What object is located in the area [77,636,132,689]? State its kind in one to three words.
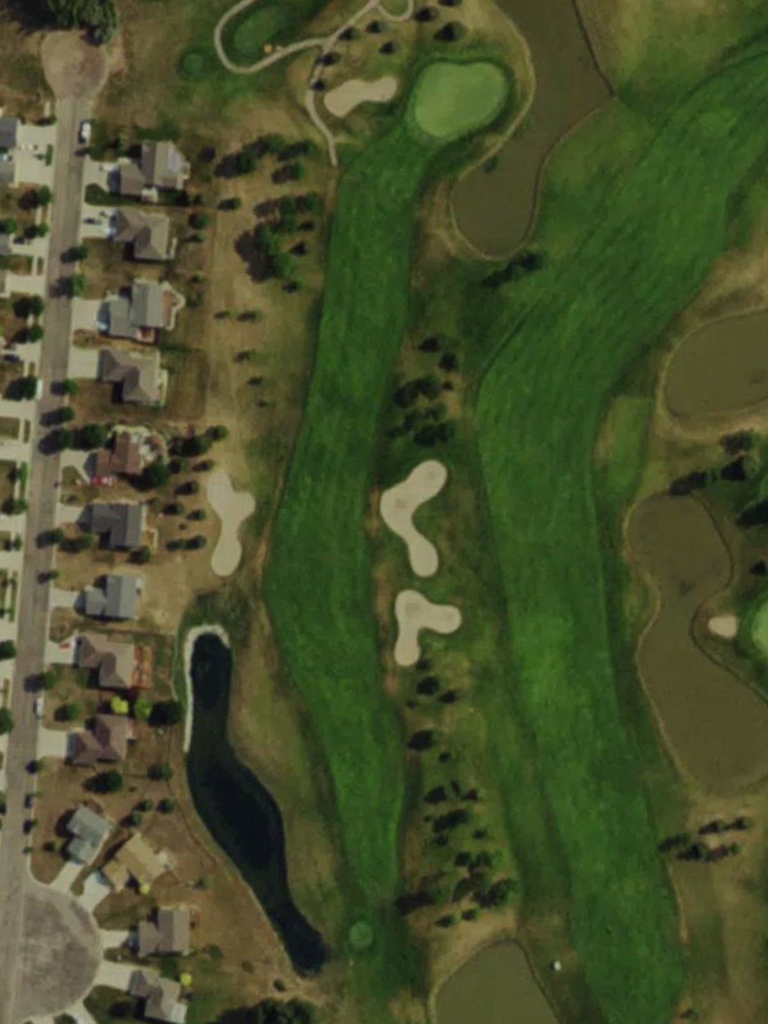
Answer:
house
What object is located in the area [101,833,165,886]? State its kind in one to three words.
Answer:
house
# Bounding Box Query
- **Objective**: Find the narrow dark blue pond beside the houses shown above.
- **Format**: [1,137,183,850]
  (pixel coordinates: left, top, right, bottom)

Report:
[187,633,326,972]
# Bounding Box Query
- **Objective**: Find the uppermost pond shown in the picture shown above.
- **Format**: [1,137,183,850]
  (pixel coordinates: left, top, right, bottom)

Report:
[452,0,611,258]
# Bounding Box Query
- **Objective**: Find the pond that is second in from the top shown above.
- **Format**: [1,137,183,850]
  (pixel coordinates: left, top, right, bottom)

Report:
[665,309,768,417]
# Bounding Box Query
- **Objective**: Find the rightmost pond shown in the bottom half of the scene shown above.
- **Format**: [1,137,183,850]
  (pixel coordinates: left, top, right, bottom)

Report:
[625,491,768,793]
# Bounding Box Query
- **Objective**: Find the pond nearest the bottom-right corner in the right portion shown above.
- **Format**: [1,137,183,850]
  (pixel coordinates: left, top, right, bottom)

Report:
[436,939,557,1024]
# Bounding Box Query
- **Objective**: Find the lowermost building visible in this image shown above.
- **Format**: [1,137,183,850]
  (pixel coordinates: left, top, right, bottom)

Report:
[131,973,186,1024]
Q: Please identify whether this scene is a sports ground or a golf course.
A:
golf course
